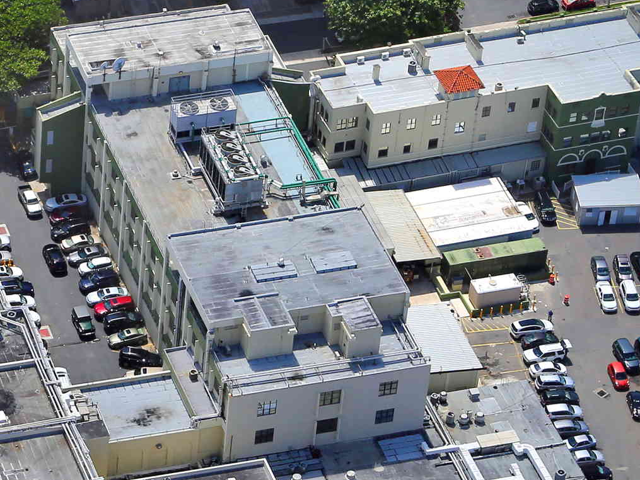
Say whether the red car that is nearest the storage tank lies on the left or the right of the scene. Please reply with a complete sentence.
The red car that is nearest the storage tank appears in the right half of the scene.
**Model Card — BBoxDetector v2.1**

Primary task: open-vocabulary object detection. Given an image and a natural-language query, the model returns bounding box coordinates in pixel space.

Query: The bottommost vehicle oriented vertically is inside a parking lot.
[625,391,640,424]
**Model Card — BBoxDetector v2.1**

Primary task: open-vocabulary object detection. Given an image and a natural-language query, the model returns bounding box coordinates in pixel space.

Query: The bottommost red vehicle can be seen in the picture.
[607,363,628,391]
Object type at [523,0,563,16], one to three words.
car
